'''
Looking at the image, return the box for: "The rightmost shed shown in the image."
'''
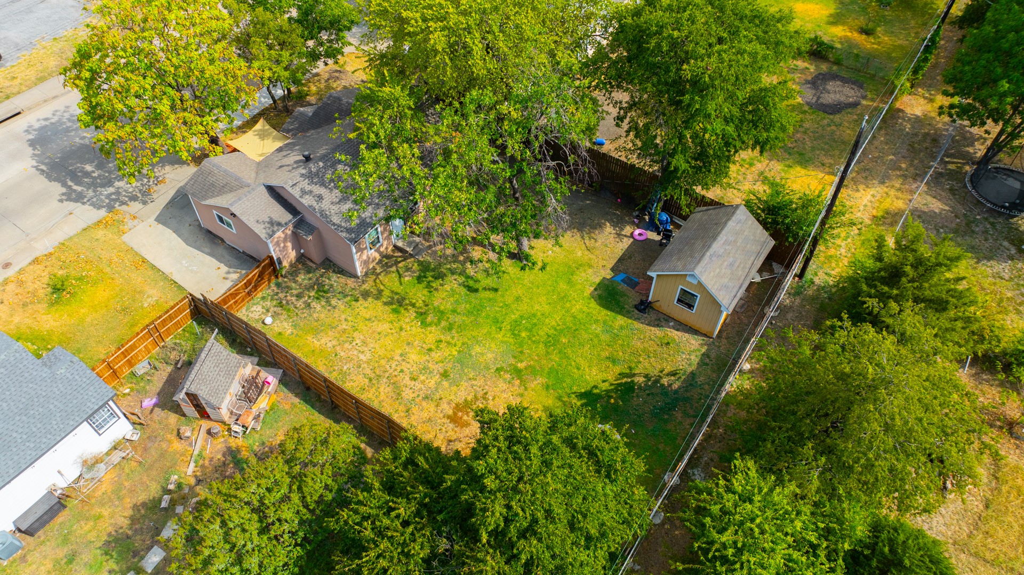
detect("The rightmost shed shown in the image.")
[642,202,777,337]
